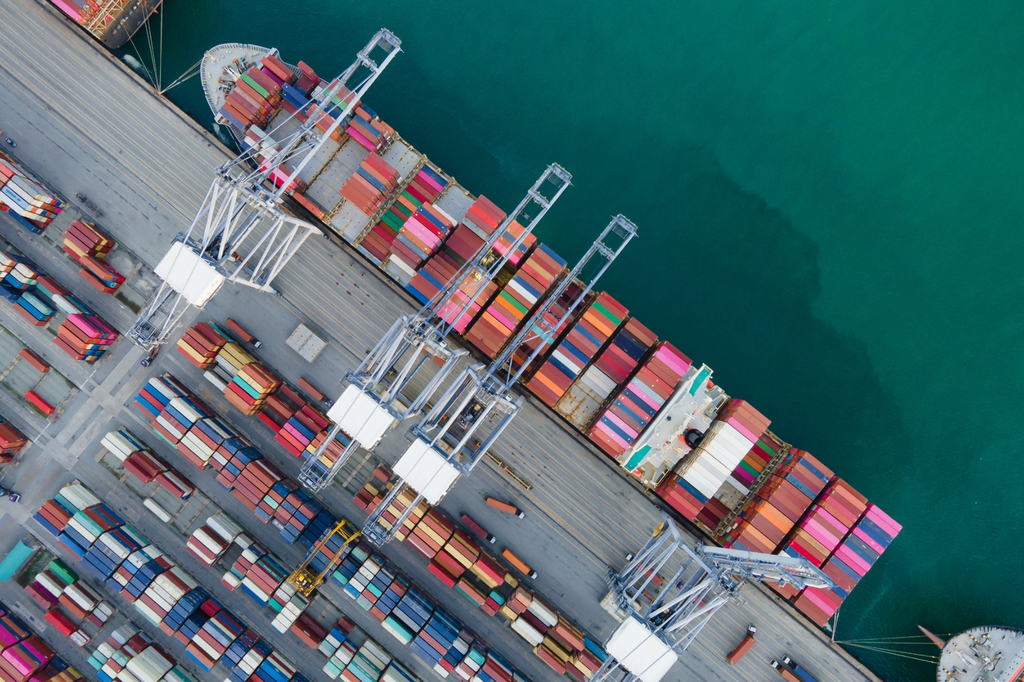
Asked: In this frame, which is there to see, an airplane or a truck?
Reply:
truck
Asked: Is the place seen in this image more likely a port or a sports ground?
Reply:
port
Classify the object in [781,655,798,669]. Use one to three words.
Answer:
vehicle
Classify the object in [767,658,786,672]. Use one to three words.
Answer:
vehicle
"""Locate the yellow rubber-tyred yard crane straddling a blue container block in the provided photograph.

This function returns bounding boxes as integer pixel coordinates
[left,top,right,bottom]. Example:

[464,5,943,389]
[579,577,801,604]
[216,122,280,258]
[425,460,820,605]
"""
[278,517,367,605]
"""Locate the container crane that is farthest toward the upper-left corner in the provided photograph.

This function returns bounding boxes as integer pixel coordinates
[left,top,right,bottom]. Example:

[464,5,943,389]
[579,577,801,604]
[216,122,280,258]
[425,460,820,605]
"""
[132,24,406,360]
